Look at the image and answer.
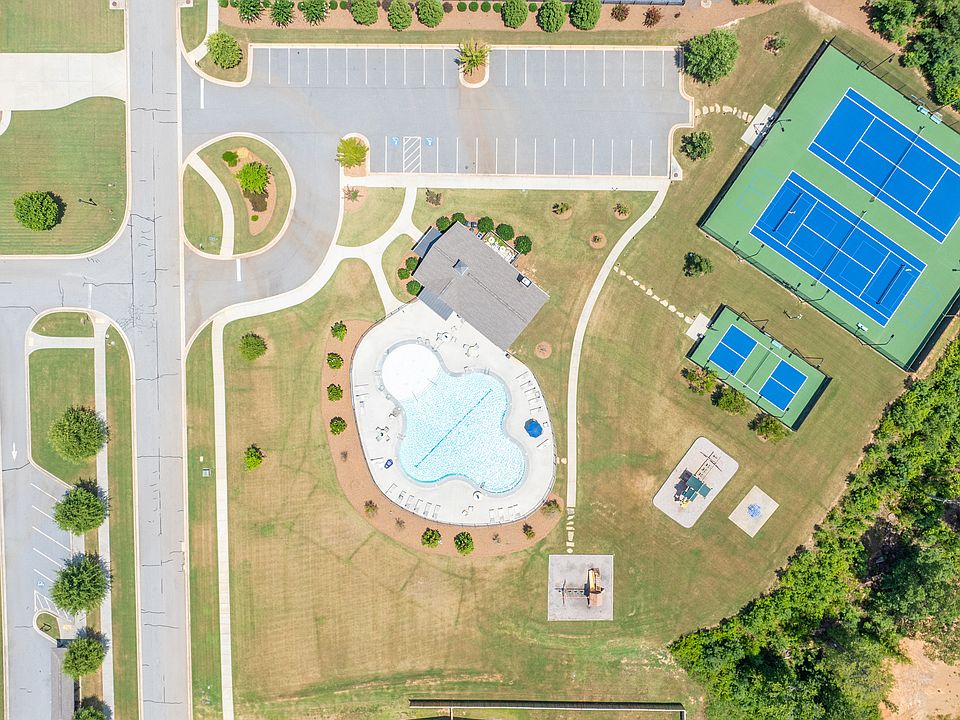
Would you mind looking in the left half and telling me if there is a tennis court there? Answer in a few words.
No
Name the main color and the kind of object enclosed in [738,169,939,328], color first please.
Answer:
blue tennis court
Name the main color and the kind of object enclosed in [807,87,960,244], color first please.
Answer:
blue tennis court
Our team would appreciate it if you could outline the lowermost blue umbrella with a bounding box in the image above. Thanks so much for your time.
[525,419,543,437]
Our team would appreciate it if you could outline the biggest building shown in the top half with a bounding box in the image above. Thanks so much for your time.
[412,220,549,352]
